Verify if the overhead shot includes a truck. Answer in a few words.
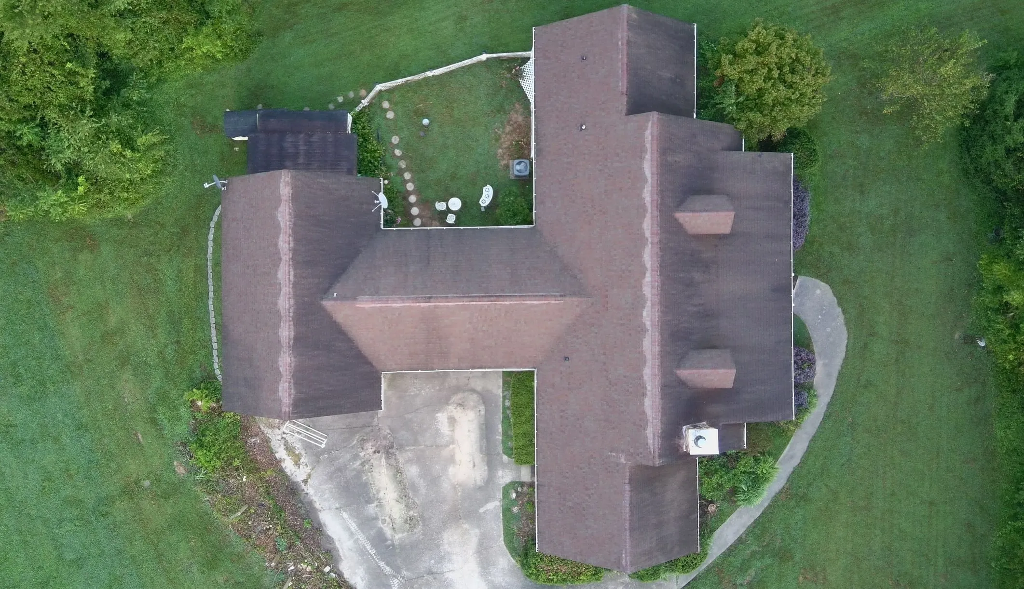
No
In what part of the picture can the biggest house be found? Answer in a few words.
center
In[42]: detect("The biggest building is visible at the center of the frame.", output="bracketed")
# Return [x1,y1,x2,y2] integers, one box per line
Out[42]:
[221,3,796,573]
